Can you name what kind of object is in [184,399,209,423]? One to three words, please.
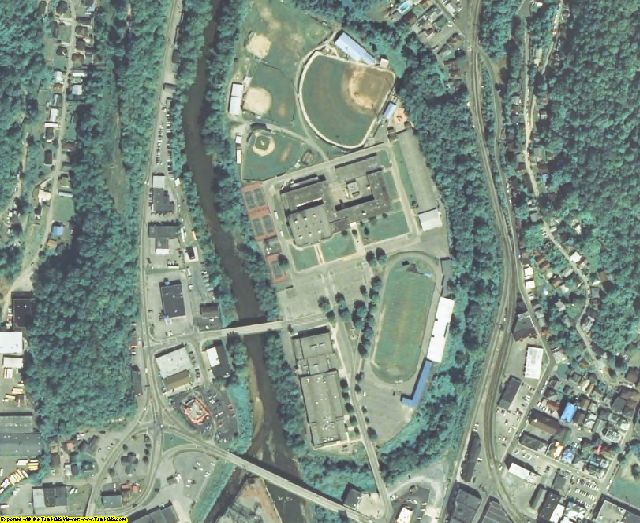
building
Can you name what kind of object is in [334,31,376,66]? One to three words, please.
building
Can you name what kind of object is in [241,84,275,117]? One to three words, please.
baseball field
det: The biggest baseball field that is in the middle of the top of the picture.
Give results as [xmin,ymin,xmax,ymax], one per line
[299,51,395,151]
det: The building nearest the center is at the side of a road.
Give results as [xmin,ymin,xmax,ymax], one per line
[283,158,396,245]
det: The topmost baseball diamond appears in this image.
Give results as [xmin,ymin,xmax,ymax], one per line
[243,29,274,59]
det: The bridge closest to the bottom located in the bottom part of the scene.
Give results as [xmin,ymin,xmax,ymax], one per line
[198,437,381,523]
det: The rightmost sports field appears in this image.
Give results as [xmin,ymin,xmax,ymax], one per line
[371,249,439,388]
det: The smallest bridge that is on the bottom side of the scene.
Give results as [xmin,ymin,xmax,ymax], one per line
[199,318,298,339]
